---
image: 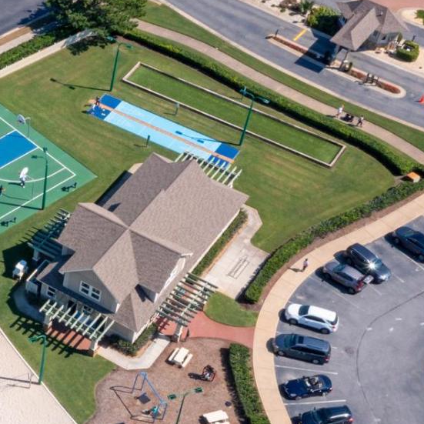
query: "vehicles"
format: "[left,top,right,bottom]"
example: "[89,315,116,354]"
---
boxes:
[393,227,424,261]
[286,304,341,334]
[284,376,338,401]
[323,261,380,295]
[272,332,331,364]
[344,243,393,281]
[298,404,358,424]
